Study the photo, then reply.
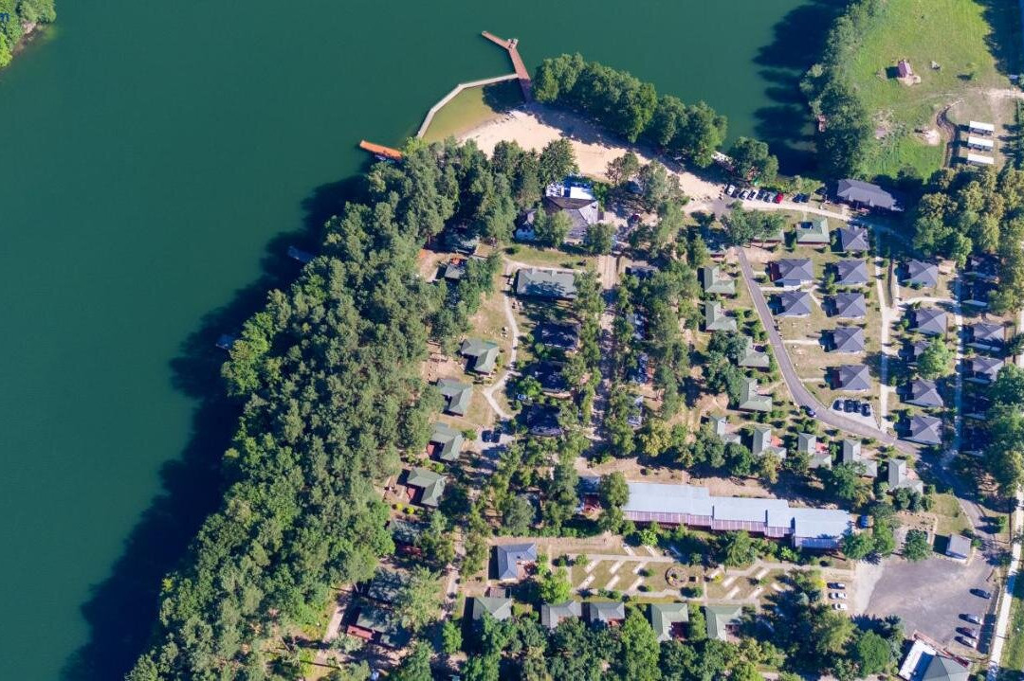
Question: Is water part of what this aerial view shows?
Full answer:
Yes, some water is visible.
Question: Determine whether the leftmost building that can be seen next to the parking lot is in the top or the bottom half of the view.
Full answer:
The leftmost building that can be seen next to the parking lot is in the bottom half of the image.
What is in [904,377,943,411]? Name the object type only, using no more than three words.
building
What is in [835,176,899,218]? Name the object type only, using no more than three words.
house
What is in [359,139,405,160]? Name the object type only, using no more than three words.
pier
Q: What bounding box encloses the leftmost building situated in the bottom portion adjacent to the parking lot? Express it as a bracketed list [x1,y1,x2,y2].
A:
[621,482,852,548]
